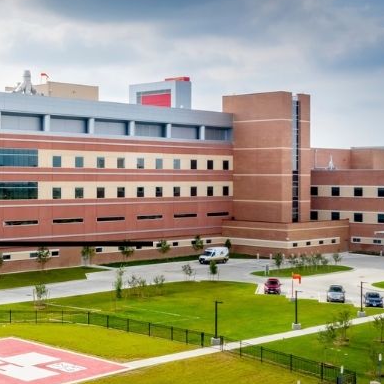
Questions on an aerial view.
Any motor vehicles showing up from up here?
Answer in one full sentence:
Yes, there's a motor vehicle down there.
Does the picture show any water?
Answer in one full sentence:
No, there is no water in the image.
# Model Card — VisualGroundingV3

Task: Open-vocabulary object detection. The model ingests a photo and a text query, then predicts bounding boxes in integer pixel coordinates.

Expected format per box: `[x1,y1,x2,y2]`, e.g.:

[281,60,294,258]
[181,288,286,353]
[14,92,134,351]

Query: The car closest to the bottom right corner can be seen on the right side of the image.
[364,289,384,306]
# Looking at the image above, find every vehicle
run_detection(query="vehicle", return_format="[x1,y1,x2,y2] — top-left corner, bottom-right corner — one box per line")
[196,245,231,263]
[364,289,384,306]
[265,277,284,292]
[327,283,347,301]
